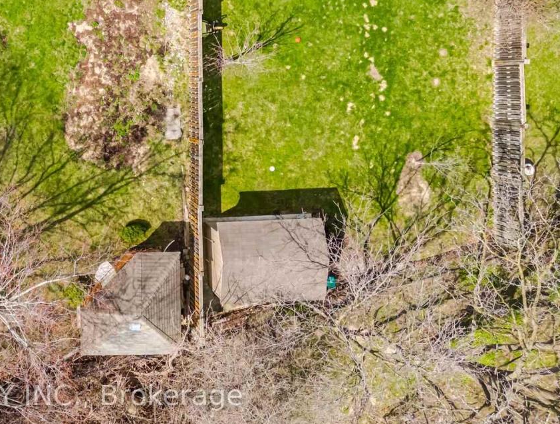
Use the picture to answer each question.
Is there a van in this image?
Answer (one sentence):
No, the photo shows no van.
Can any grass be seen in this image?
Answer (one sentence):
Yes, some grass is visible.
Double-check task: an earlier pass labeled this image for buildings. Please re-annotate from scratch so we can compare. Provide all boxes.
[79,244,182,357]
[207,217,326,310]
